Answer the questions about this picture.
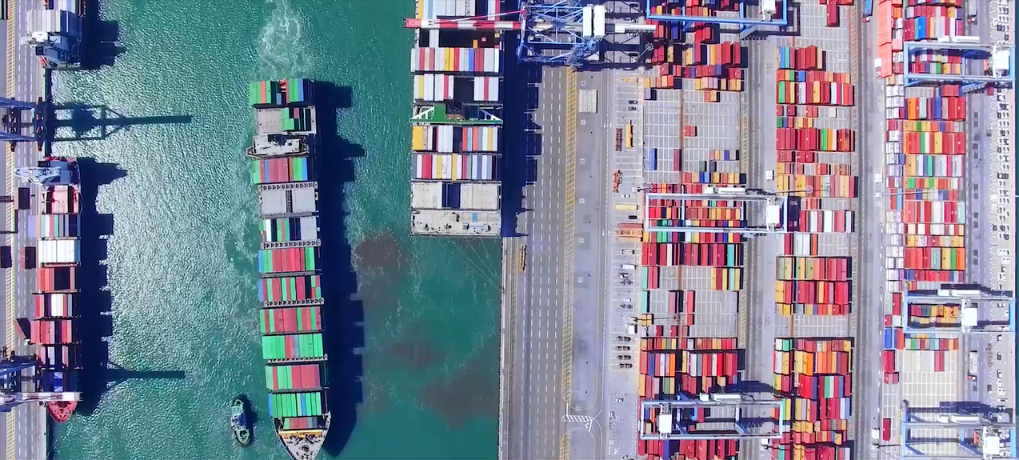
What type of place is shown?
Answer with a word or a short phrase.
port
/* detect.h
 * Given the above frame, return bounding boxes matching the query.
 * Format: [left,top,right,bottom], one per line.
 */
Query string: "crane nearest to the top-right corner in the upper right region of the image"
[903,37,1014,96]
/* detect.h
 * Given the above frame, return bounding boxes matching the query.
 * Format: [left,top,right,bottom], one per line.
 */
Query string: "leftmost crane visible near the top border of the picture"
[406,2,658,68]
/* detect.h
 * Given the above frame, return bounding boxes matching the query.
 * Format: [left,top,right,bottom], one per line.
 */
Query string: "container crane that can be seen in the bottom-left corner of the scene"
[0,352,81,406]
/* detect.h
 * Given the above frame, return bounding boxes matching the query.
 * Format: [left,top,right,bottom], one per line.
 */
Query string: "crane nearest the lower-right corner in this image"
[900,406,1014,460]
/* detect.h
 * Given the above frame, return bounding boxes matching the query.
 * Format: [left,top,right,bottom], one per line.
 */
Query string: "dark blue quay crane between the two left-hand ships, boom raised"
[0,96,41,144]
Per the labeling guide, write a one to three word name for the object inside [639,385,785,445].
container crane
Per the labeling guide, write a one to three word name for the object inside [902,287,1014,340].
container crane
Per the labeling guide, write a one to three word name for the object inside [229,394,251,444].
boat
